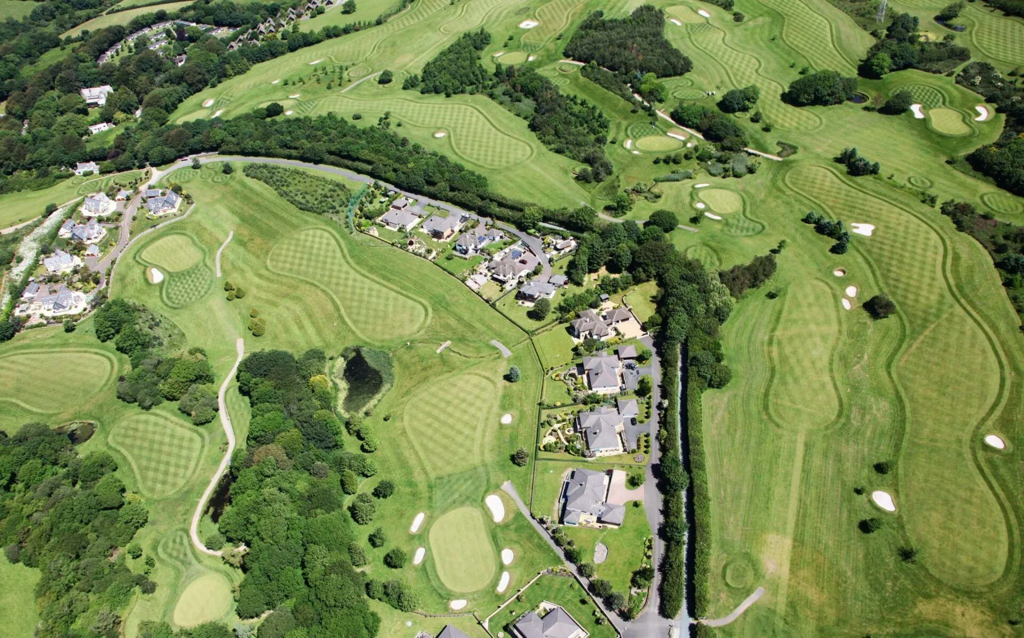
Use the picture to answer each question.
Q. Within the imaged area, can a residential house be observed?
Yes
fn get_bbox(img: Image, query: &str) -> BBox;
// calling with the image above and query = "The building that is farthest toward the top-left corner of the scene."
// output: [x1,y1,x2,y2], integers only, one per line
[80,87,114,106]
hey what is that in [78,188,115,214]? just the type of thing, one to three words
house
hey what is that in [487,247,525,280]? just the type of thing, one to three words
house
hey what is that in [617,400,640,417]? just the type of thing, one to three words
building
